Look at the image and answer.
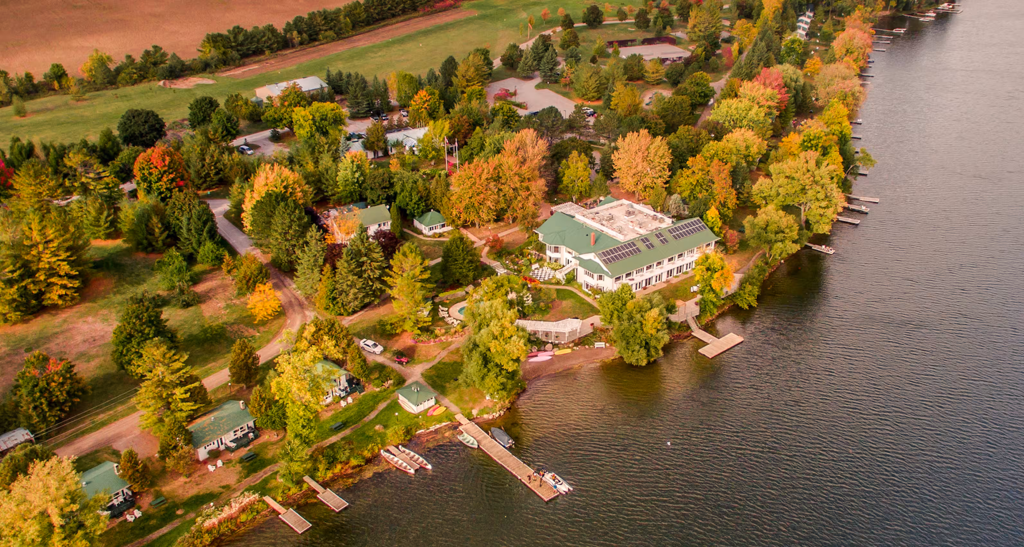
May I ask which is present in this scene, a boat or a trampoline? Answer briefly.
boat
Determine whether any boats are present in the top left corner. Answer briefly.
No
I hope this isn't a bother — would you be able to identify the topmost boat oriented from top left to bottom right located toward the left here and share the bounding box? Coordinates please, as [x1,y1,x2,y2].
[395,401,418,415]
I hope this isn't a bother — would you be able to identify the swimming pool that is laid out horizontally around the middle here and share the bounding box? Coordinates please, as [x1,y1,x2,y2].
[445,298,490,320]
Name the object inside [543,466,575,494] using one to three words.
boat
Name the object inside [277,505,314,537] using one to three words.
pier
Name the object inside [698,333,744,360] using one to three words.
pier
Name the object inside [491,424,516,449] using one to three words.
boat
